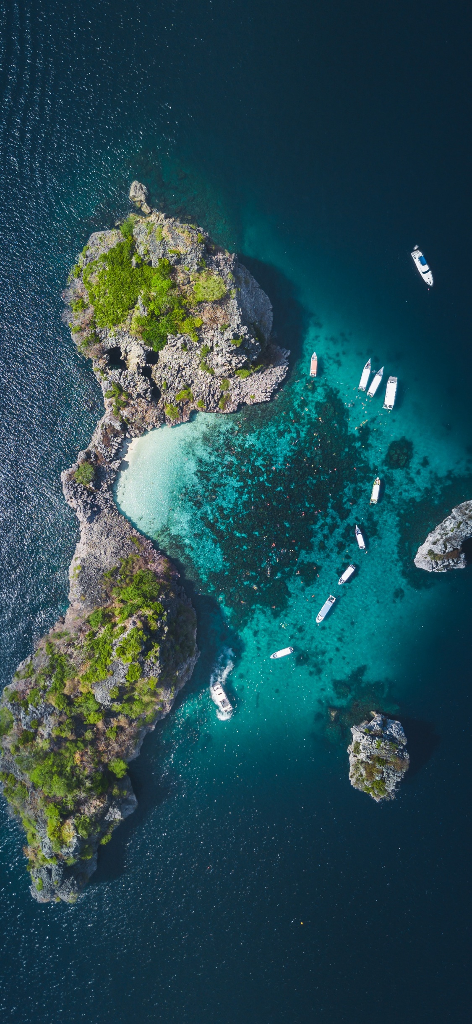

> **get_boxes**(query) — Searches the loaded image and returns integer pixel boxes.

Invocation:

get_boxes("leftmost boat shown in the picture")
[215,683,233,712]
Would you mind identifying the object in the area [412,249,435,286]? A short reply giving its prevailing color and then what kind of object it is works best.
white boat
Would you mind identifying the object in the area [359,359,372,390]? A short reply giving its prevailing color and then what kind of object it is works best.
white boat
